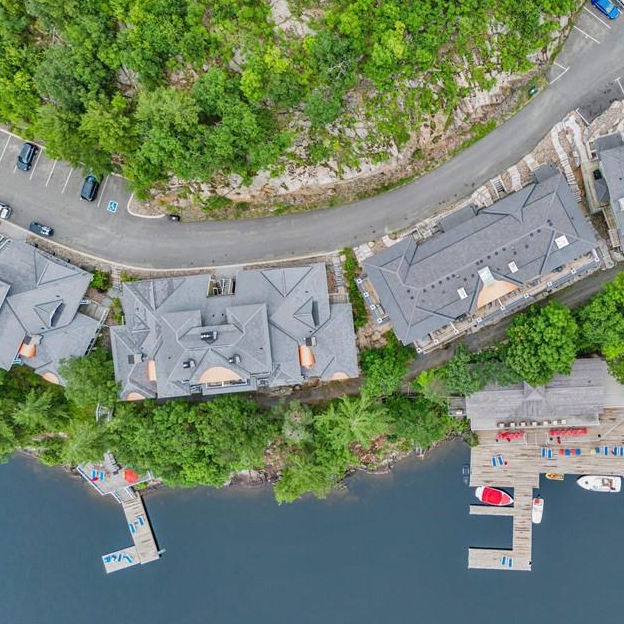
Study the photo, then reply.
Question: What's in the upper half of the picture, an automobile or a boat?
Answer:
automobile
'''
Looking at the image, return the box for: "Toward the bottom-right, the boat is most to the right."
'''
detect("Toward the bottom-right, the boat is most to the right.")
[577,477,624,493]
